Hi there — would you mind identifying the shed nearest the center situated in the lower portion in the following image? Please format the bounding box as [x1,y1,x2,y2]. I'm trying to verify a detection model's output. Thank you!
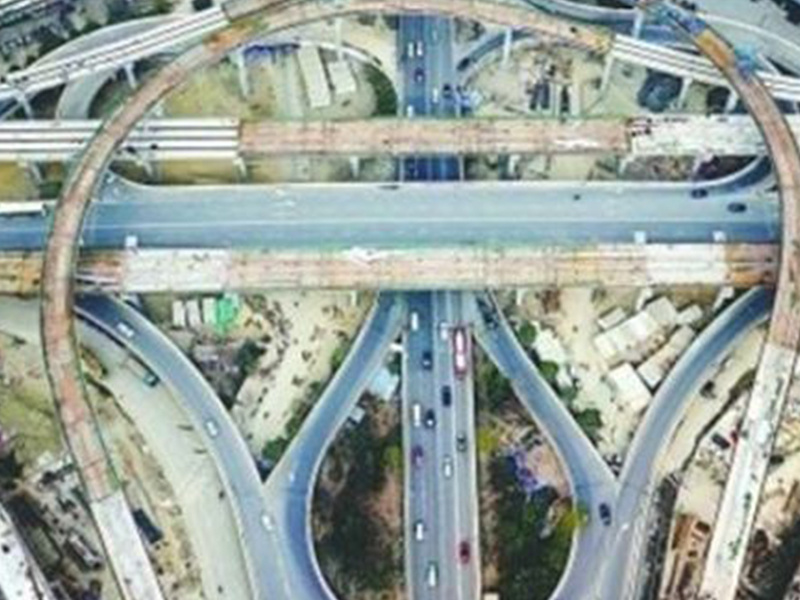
[371,367,398,404]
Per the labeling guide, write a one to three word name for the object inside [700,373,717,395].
work vehicle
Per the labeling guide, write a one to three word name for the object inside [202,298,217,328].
building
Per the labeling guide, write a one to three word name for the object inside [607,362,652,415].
shed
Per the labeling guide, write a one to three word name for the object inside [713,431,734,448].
vehicle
